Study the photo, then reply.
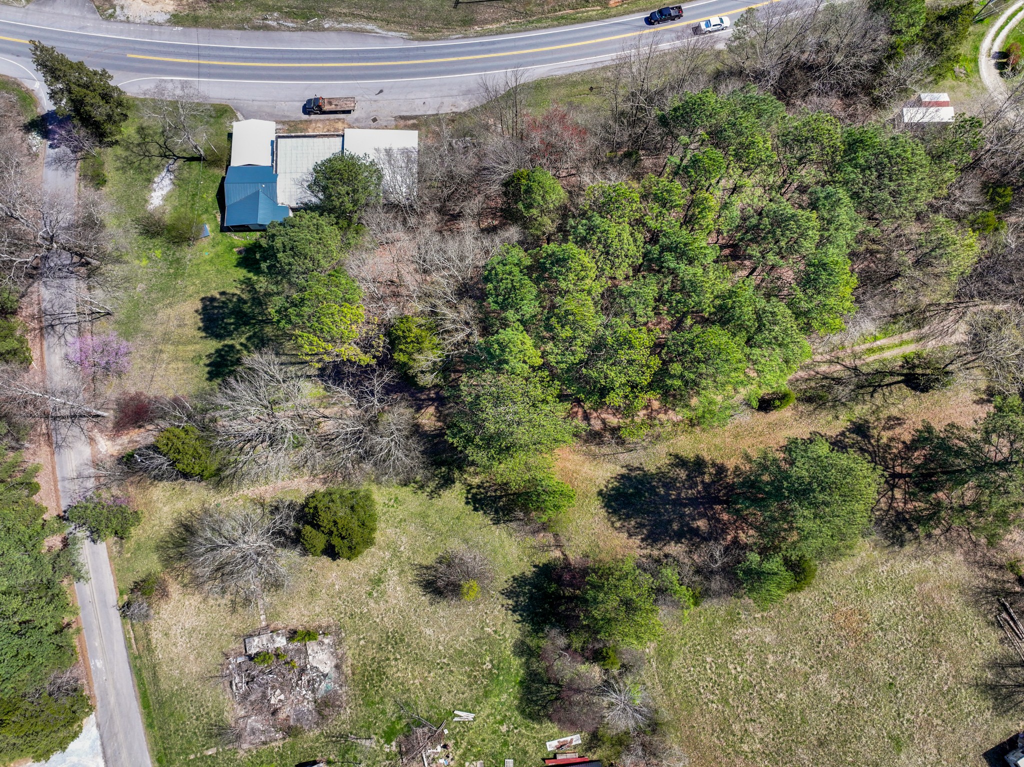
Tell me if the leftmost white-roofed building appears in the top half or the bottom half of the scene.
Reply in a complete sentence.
The leftmost white-roofed building sits in the top half of the picture.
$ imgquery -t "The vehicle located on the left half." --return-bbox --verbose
[304,97,358,116]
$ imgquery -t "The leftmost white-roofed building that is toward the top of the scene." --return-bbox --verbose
[231,119,279,167]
